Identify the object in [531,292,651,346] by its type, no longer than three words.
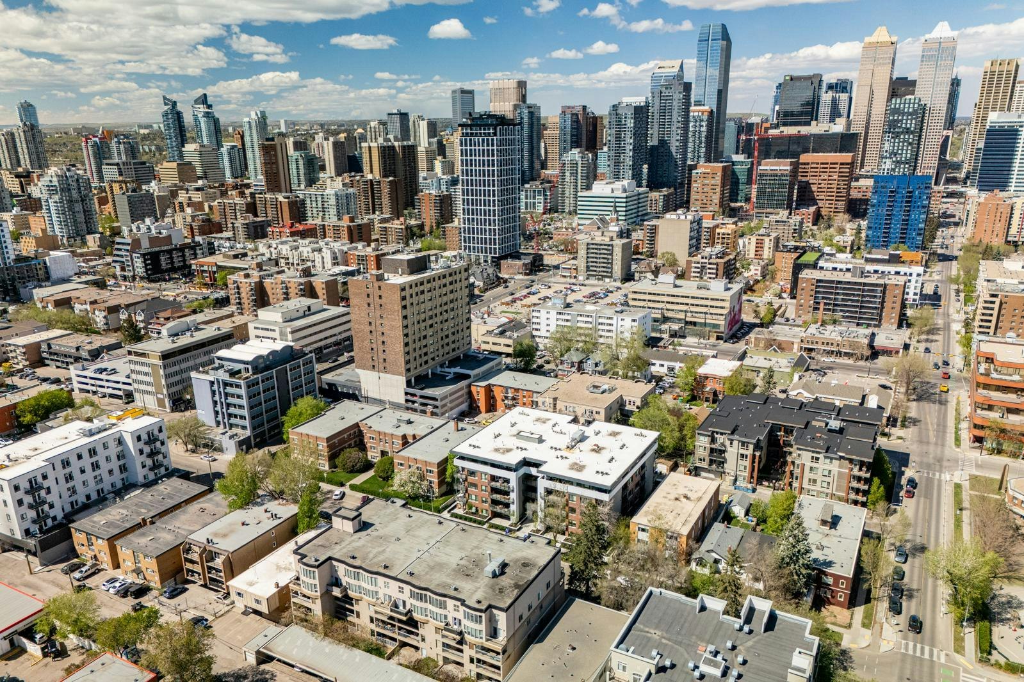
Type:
building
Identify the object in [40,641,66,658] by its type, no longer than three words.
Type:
car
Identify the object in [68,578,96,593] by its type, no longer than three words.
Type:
vehicle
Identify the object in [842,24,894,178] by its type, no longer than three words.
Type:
building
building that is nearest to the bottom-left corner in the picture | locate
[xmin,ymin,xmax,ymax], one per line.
[0,583,46,650]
